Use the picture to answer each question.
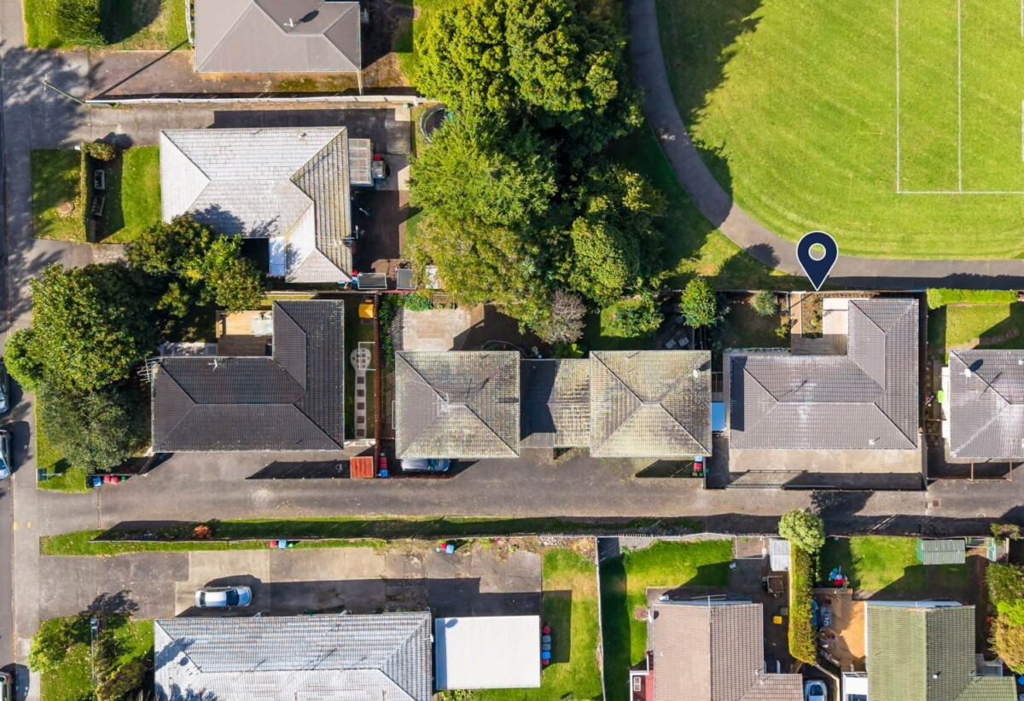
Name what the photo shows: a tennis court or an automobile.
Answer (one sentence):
Of the two, only an automobile appears.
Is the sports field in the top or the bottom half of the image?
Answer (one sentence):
Seen from above, the sports field lies in the top half of the view.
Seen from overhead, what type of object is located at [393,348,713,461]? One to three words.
house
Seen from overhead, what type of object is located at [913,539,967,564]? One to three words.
shed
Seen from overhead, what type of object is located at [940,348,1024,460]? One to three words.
house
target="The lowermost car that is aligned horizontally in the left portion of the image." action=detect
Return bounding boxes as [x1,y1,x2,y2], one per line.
[191,586,252,613]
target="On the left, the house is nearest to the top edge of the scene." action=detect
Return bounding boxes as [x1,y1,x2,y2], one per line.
[193,0,364,74]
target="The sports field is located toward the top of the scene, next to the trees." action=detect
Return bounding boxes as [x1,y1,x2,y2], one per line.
[546,0,1024,291]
